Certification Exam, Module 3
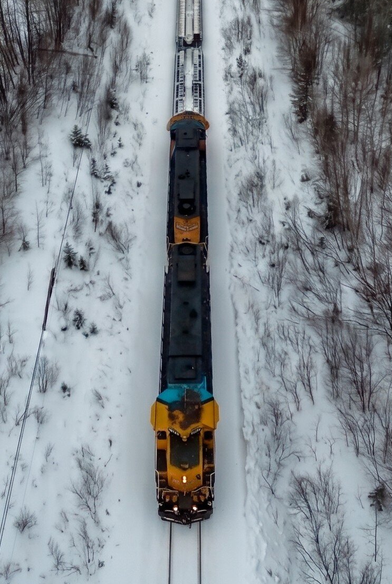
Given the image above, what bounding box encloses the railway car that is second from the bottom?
[166,118,210,268]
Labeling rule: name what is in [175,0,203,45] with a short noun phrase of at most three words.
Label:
rail car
